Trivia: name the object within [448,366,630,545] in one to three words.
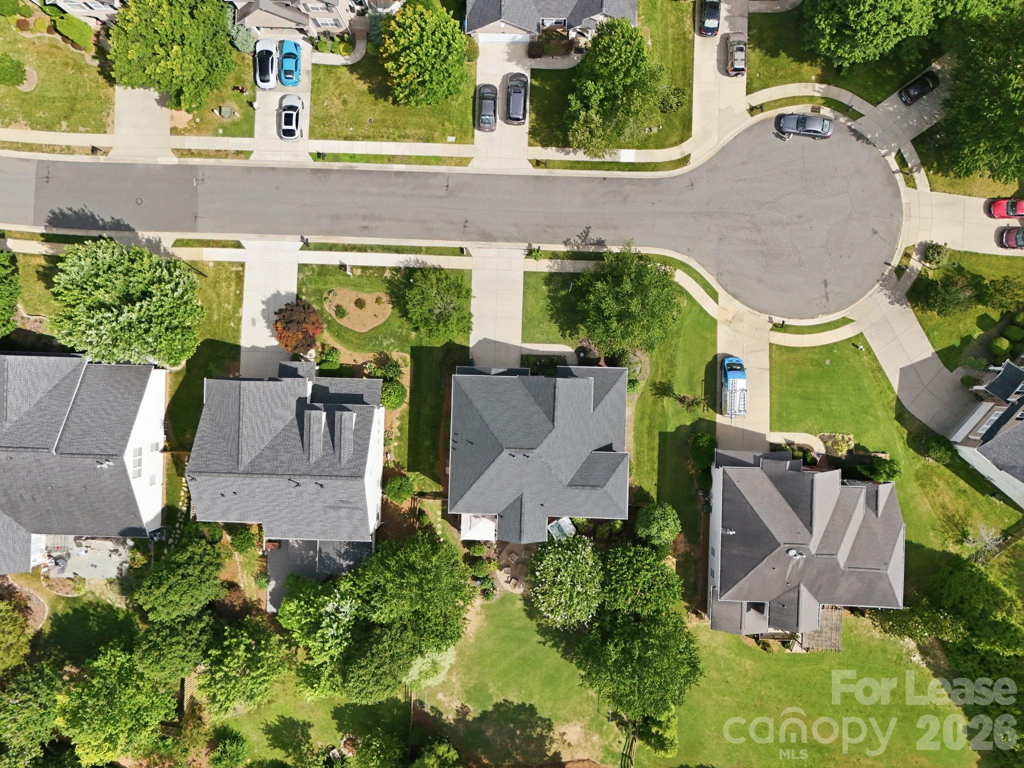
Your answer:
house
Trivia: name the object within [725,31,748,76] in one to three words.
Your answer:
car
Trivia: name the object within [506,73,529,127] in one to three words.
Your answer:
car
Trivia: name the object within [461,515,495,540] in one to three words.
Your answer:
gazebo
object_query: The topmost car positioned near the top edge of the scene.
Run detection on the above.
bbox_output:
[698,0,722,40]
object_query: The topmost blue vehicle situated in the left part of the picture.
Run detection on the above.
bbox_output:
[278,40,302,89]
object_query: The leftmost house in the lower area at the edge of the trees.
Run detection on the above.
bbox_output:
[0,351,162,574]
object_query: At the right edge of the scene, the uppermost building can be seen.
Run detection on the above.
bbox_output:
[951,344,1024,508]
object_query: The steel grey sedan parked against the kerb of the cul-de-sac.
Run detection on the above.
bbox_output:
[778,113,832,141]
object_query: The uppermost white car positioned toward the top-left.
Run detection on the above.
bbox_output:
[254,39,280,92]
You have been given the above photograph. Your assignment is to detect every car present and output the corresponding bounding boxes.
[997,227,1024,250]
[698,0,722,40]
[986,197,1024,220]
[506,73,529,127]
[278,94,304,144]
[475,84,497,134]
[725,31,748,76]
[893,72,939,109]
[254,39,280,92]
[778,113,832,141]
[278,40,302,89]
